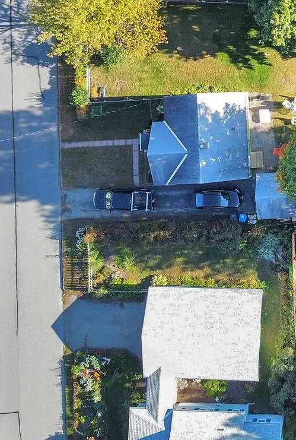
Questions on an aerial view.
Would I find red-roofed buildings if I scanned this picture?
No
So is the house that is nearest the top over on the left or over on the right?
right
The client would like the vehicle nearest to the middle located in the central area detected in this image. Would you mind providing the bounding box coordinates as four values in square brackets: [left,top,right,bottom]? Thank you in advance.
[92,190,152,213]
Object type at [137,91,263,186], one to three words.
house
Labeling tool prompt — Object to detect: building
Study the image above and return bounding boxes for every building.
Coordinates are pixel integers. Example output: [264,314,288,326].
[128,284,286,440]
[137,91,263,186]
[254,173,295,221]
